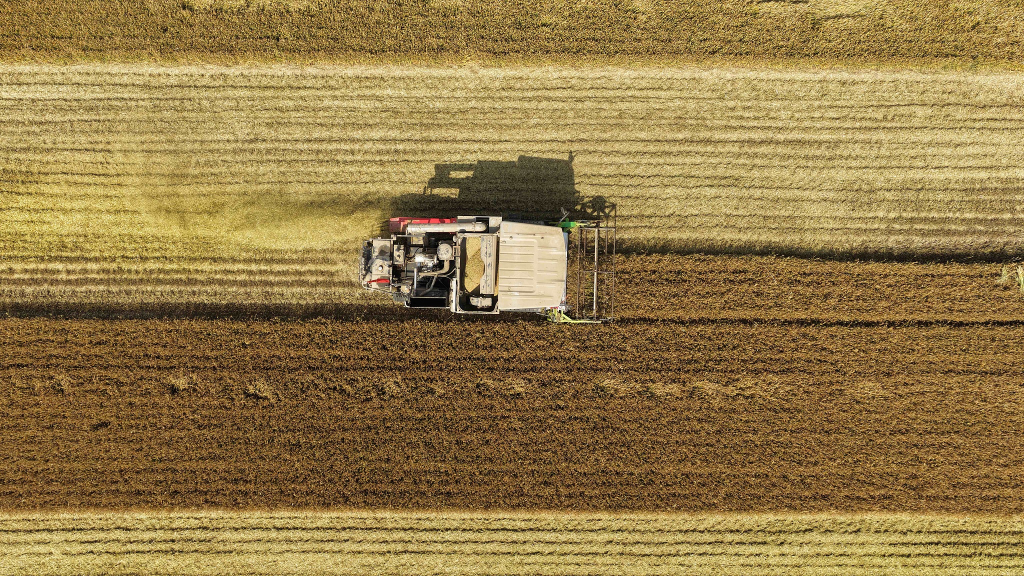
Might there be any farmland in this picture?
Yes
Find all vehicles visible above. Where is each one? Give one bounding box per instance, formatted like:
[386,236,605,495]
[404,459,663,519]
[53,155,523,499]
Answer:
[360,206,616,323]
